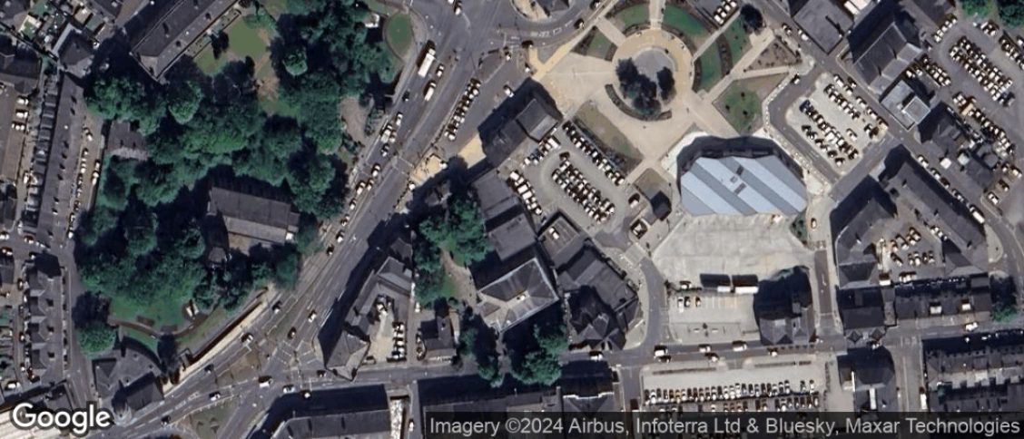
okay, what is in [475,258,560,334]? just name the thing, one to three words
building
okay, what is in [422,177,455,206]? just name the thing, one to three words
house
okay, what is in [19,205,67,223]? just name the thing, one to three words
house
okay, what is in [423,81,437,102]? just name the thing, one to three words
vehicle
